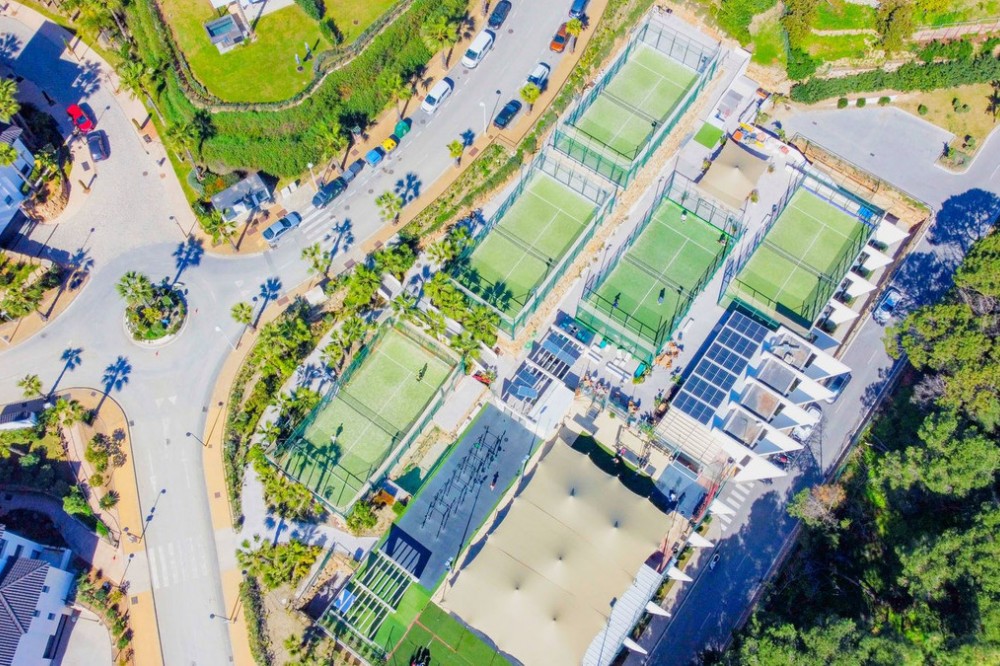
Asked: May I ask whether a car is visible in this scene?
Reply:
Yes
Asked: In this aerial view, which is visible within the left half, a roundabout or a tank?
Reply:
roundabout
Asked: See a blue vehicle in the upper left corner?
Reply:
Yes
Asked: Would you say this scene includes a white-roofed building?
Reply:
Yes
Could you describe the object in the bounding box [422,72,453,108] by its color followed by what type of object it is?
white car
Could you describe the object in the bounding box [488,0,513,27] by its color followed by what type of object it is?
blue car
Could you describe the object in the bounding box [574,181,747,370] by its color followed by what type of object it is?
green sports court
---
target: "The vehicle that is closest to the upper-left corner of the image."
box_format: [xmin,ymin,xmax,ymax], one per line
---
[62,101,92,132]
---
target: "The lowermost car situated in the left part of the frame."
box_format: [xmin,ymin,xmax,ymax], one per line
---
[261,210,300,240]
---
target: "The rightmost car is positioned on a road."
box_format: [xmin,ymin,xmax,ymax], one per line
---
[875,286,905,321]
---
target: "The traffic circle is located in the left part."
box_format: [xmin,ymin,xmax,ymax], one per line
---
[122,280,191,347]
